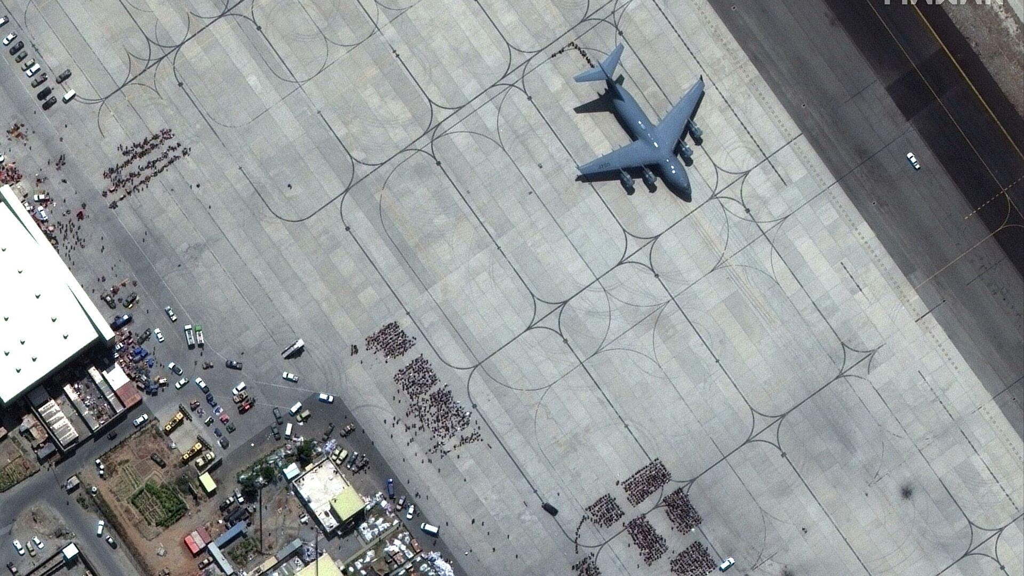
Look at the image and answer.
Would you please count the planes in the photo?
1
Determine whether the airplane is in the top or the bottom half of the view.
top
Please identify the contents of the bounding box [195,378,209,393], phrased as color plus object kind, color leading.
white vehicle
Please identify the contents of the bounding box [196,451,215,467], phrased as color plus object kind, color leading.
white work vehicle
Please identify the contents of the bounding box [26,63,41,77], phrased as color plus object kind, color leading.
white car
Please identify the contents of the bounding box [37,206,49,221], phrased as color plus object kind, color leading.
white vehicle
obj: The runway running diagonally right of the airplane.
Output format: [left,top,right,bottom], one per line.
[823,0,1024,281]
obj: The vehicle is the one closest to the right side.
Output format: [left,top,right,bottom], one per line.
[908,152,920,169]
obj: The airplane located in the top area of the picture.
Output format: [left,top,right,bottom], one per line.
[573,42,706,197]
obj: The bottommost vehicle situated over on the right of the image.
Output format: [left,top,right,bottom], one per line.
[719,558,735,571]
